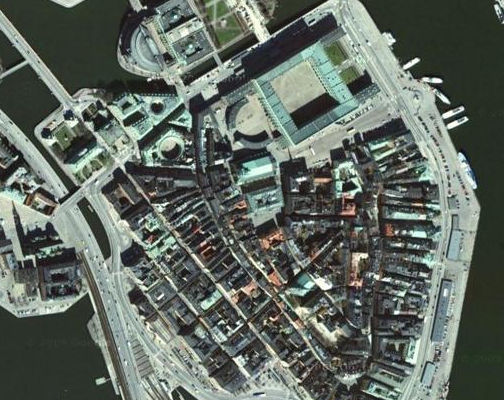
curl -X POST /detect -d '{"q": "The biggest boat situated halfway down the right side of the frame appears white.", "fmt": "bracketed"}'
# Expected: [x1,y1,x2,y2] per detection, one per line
[459,151,479,190]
